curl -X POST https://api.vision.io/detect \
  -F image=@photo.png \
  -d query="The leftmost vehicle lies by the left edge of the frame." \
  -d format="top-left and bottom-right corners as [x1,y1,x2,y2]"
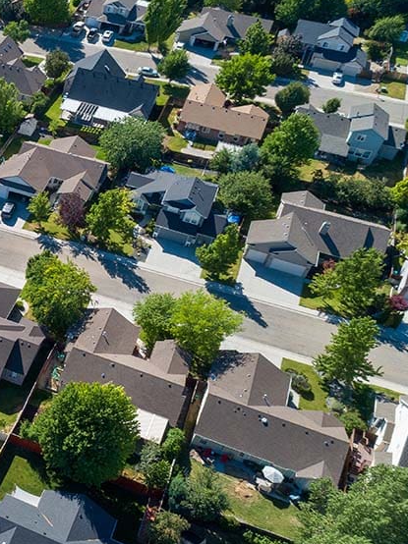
[1,200,16,219]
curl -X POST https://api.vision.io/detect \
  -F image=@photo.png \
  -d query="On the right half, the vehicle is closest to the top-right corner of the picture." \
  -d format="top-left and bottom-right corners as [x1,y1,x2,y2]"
[331,71,345,86]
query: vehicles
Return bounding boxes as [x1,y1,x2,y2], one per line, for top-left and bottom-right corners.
[331,71,345,86]
[103,31,113,41]
[72,20,85,34]
[86,27,98,41]
[1,200,16,219]
[137,69,160,79]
